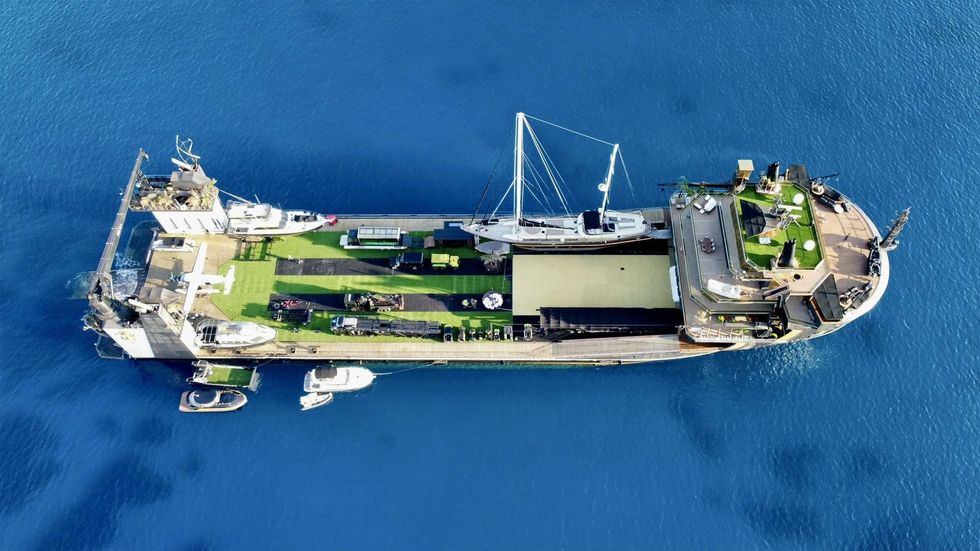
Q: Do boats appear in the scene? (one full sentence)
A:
Yes, this view includes a boat.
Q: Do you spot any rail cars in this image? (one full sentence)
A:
No, the frame has no rail car in it.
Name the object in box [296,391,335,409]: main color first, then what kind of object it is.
white boat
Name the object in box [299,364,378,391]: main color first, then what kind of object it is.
white boat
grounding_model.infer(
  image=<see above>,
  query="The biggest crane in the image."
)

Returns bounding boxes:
[69,146,153,338]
